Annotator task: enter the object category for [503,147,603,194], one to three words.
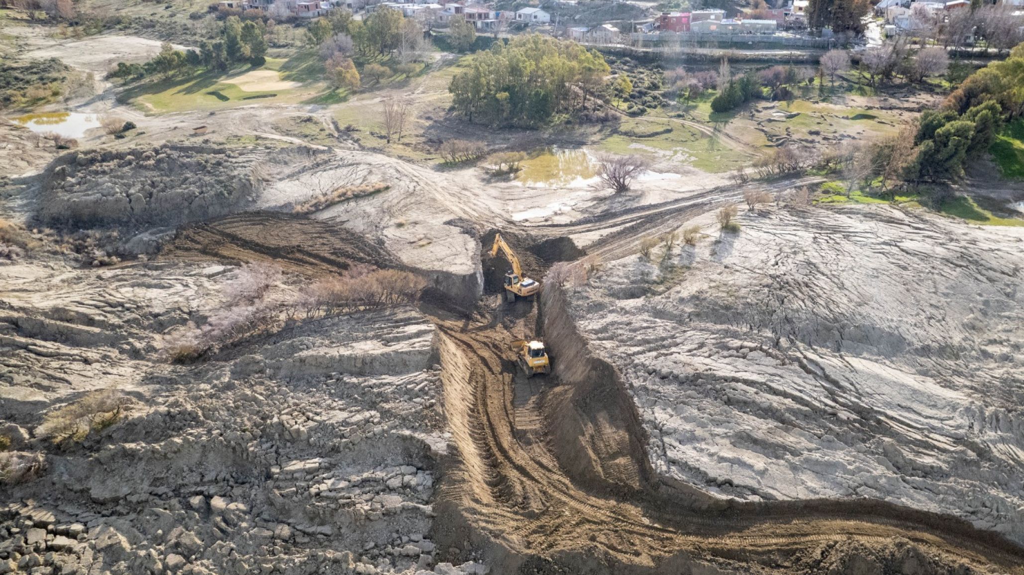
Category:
pond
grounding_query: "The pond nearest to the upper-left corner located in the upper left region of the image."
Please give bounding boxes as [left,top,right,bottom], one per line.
[7,111,105,141]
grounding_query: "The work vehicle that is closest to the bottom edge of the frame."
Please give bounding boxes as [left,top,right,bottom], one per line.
[510,335,550,376]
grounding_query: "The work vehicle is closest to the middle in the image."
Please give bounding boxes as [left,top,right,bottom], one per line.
[489,234,539,305]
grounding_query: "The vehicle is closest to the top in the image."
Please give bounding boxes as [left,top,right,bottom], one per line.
[876,20,899,35]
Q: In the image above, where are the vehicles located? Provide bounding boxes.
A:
[510,335,550,376]
[489,234,539,305]
[876,20,899,35]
